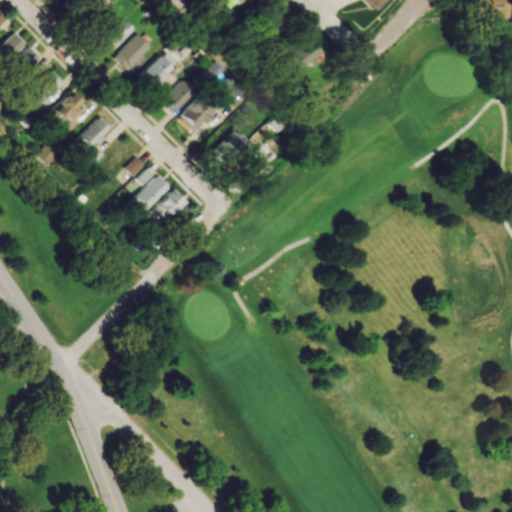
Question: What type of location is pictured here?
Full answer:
The area seen from above is a golf course.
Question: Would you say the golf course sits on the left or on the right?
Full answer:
You can find the golf course on the right side of the picture.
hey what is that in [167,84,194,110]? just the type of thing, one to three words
house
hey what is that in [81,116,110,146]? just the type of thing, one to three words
house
